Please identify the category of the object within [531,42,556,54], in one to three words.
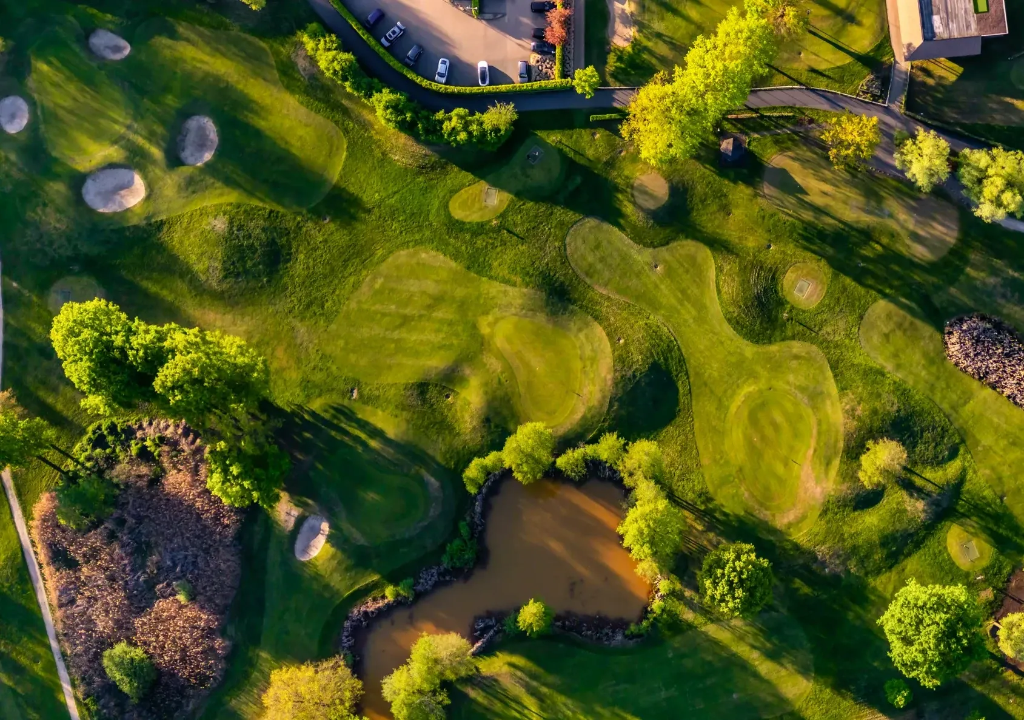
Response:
vehicle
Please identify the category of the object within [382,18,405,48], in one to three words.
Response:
car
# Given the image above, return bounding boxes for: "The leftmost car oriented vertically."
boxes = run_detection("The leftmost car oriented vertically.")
[435,58,449,84]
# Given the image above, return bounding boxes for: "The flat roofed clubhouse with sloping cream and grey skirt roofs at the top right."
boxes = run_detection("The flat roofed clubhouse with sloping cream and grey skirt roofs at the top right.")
[897,0,1010,60]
